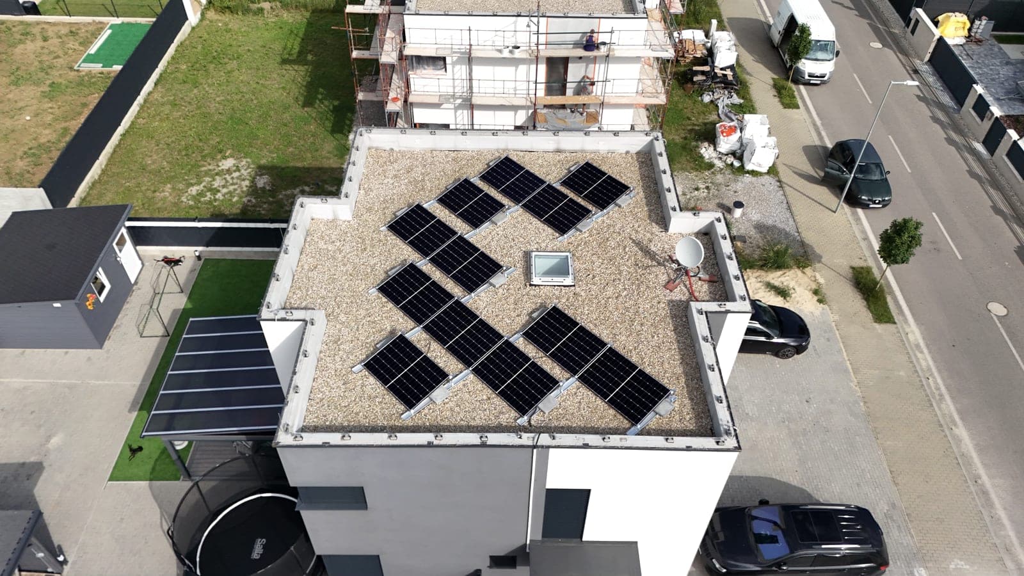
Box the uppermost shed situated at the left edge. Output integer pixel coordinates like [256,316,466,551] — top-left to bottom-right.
[0,204,143,349]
